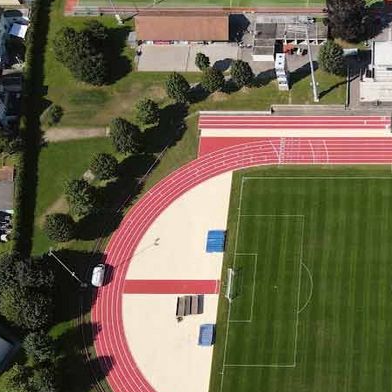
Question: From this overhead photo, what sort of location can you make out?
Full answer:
It's a sports ground.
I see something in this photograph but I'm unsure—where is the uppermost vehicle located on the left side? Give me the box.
[91,265,109,287]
